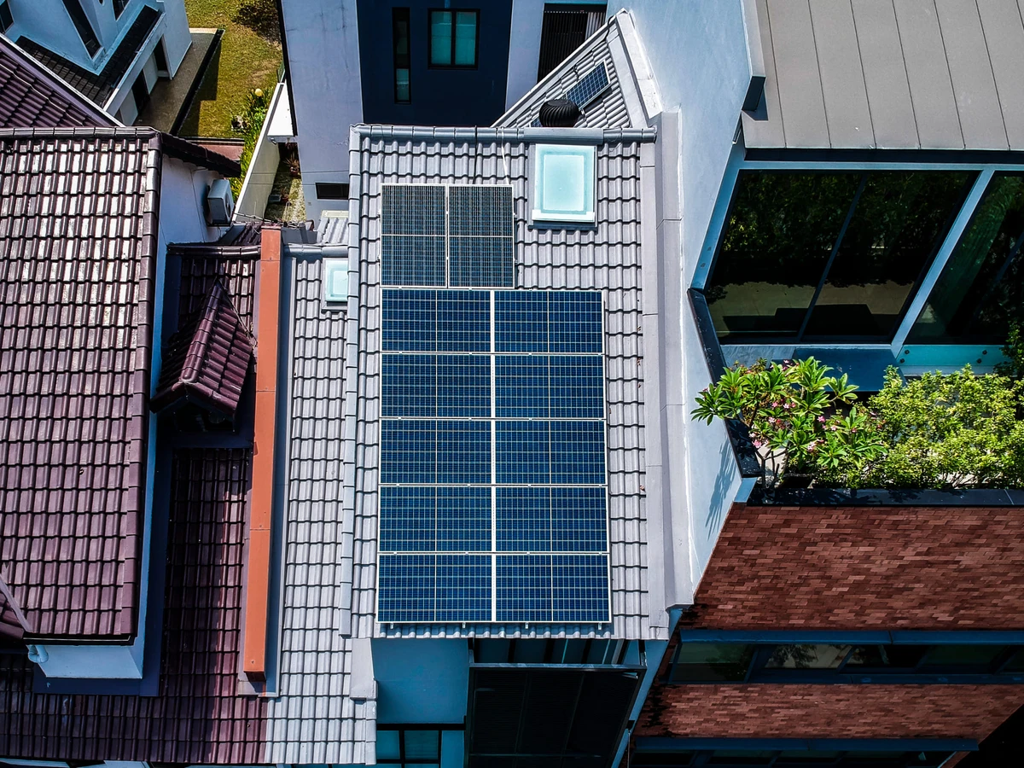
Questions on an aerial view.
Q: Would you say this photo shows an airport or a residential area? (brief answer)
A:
residential area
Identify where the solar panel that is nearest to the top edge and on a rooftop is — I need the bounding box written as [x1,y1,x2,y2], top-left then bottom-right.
[567,64,609,109]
